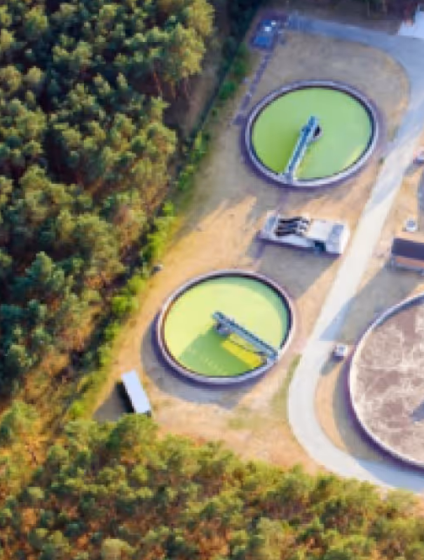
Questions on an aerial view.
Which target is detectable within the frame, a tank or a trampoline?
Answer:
tank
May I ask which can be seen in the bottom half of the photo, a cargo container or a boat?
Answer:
cargo container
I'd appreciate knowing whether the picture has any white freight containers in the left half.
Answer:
Yes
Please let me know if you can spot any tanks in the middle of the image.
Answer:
Yes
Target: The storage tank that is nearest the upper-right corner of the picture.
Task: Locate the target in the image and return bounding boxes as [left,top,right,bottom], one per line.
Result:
[239,81,385,195]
